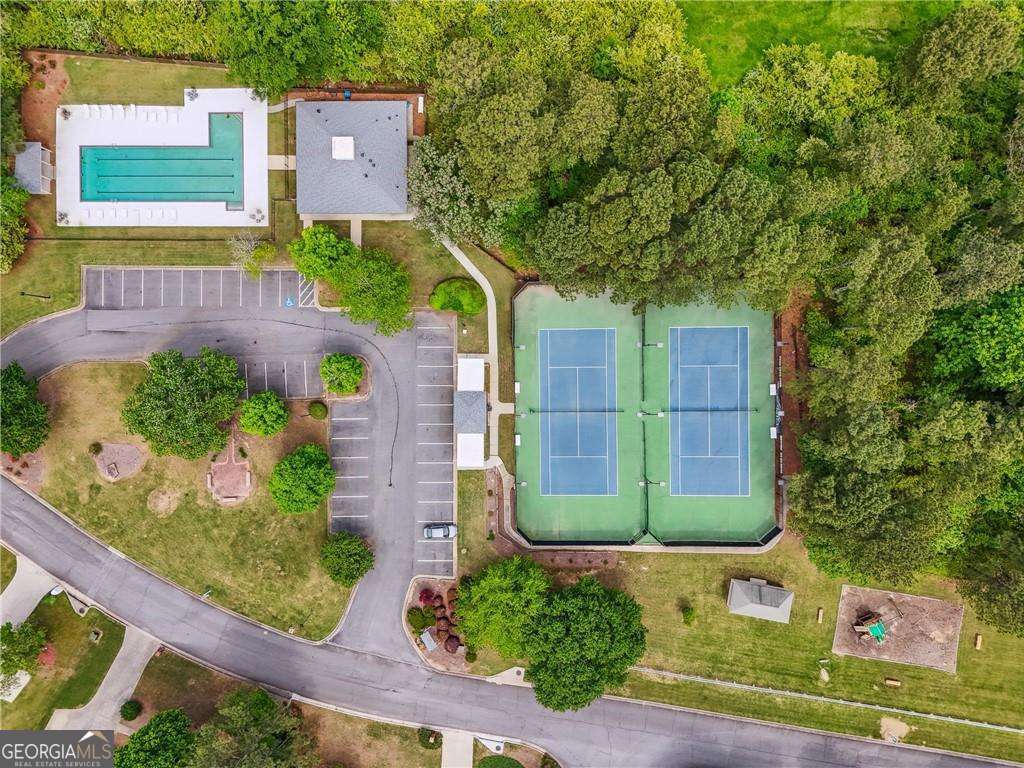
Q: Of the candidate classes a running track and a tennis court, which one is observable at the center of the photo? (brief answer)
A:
tennis court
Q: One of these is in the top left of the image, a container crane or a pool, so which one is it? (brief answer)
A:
pool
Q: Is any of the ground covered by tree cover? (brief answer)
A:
Yes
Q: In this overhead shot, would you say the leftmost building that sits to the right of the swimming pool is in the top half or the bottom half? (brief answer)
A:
top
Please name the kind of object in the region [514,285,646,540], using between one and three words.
tennis court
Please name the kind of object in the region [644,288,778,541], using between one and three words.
tennis court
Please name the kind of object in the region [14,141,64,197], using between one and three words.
shed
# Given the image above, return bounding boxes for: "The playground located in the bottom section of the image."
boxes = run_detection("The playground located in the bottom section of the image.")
[832,585,964,674]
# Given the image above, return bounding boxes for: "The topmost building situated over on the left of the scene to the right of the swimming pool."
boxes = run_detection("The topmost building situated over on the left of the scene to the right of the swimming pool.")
[295,99,408,215]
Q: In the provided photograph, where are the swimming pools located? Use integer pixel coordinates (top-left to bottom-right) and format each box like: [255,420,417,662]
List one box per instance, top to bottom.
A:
[56,89,268,226]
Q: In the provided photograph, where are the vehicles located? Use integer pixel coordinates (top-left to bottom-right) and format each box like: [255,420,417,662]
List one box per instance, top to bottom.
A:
[424,524,457,540]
